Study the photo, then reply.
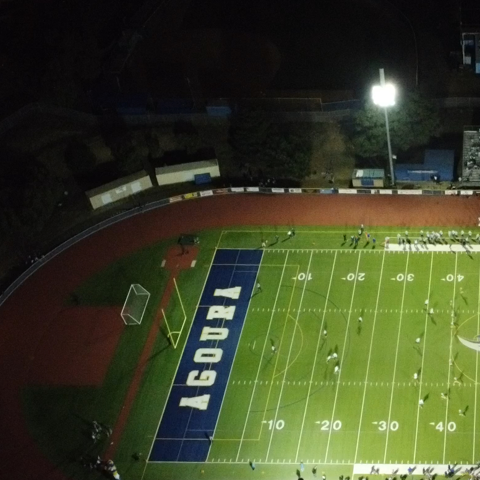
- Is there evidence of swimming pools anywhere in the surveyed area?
No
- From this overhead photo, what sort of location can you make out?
sports ground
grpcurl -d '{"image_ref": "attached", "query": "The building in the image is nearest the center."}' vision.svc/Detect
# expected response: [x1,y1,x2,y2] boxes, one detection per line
[153,155,220,186]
